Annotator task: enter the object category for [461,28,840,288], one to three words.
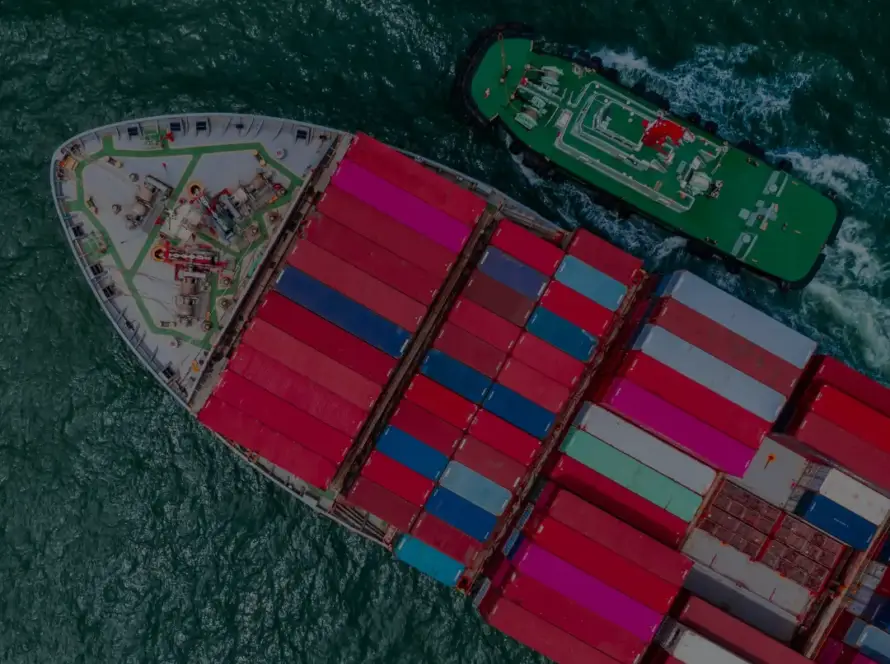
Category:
boat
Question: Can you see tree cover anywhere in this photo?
No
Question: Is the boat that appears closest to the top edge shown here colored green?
Yes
